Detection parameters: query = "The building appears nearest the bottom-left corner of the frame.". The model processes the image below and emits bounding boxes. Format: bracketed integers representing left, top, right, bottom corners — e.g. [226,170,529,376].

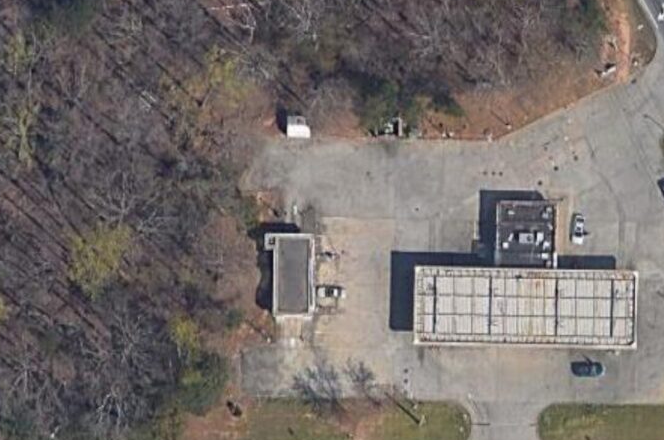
[264,234,316,324]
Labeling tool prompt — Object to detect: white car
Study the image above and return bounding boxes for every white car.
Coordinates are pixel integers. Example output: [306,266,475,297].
[572,214,589,243]
[317,286,346,299]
